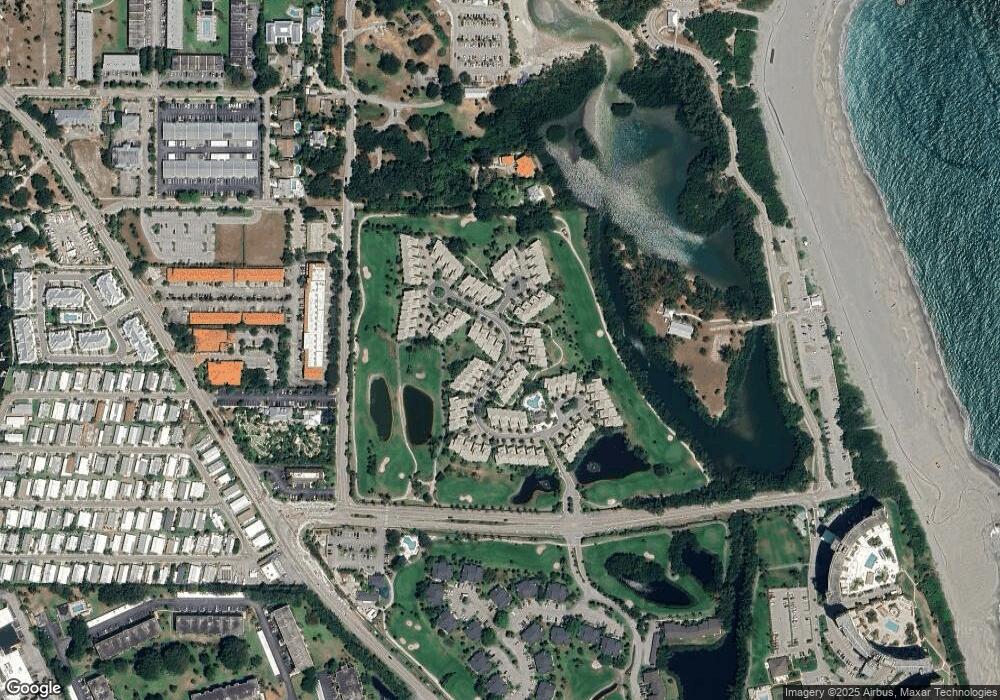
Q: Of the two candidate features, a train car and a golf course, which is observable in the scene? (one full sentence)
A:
There is a golf course in the scene.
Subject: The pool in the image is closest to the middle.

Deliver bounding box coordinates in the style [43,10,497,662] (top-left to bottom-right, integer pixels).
[524,391,545,412]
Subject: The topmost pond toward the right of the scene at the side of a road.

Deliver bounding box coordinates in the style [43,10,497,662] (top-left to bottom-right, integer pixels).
[527,0,752,290]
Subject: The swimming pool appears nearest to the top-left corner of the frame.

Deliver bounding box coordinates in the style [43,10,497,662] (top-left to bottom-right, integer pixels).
[200,17,217,41]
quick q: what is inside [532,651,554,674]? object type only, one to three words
house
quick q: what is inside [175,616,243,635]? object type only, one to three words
building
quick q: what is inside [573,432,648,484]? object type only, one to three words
pond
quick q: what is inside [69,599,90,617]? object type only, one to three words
swimming pool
